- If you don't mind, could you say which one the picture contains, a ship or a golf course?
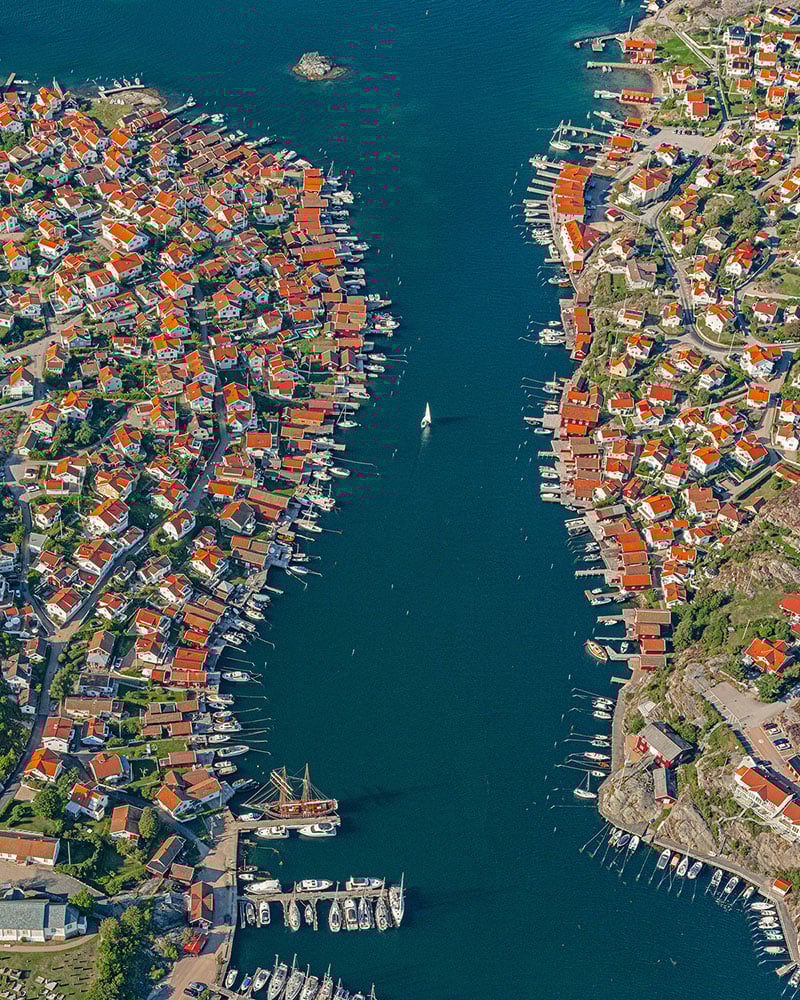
ship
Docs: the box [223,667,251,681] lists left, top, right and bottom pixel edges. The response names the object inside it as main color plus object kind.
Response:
white boat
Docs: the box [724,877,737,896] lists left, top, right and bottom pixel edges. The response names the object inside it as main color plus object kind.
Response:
white boat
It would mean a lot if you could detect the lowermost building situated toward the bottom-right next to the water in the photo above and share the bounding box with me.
[772,875,792,904]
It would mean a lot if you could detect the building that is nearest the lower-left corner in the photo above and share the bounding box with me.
[0,886,93,943]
